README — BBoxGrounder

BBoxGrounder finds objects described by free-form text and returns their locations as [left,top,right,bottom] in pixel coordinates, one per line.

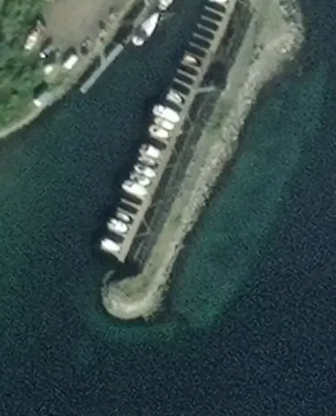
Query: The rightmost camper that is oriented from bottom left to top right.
[64,53,80,70]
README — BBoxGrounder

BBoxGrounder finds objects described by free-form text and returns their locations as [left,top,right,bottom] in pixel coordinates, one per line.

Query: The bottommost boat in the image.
[98,237,121,251]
